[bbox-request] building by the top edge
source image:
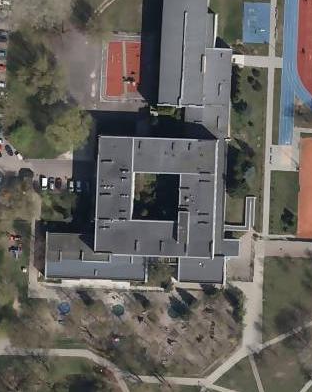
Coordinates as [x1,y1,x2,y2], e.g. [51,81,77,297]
[157,0,233,137]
